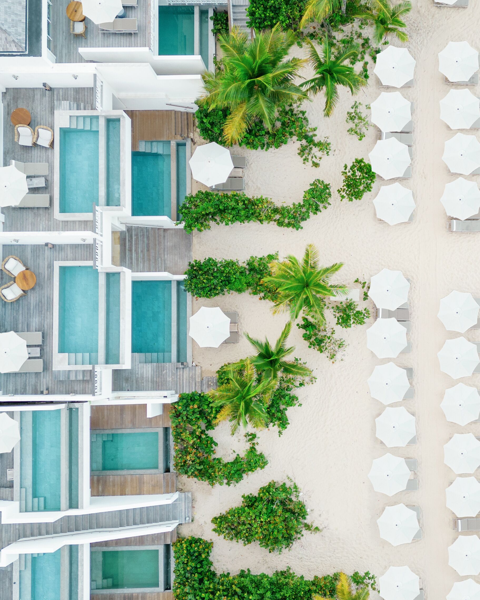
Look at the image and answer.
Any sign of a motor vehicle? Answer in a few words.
No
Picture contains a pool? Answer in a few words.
Yes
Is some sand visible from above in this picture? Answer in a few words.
Yes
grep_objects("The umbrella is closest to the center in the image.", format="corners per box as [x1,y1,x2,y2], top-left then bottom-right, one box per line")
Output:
[188,304,232,348]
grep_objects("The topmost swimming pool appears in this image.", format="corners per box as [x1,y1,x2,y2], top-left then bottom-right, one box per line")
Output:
[154,3,215,80]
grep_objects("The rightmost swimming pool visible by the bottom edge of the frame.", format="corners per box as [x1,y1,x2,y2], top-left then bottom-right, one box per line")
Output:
[94,537,179,594]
